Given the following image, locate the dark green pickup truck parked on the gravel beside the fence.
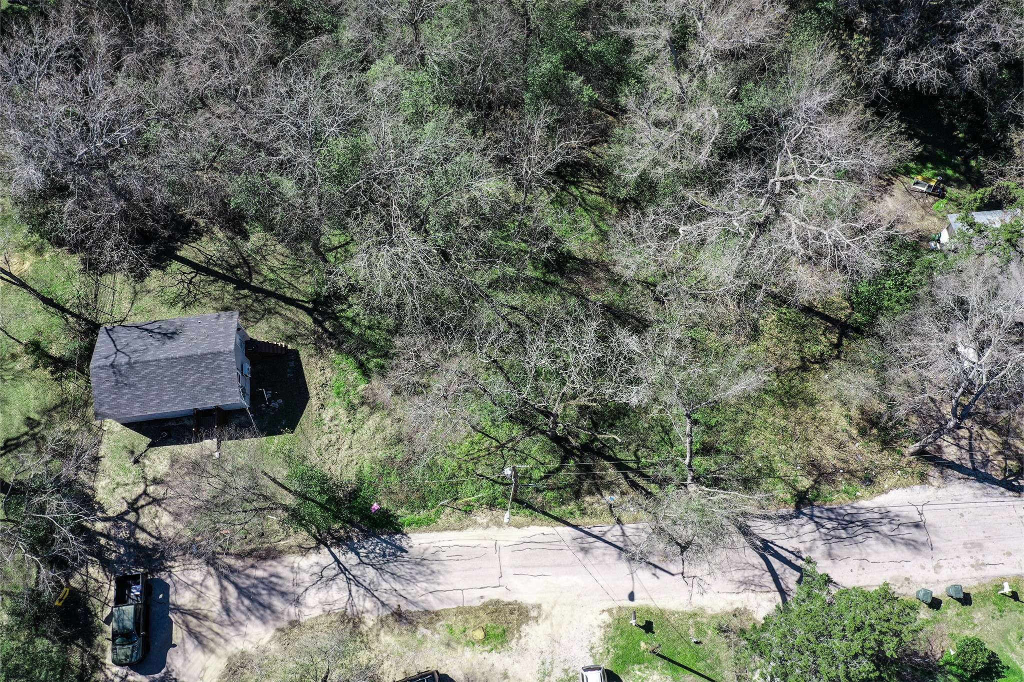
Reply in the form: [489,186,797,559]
[104,567,153,670]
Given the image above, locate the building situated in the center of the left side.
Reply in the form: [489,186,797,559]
[91,311,293,451]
